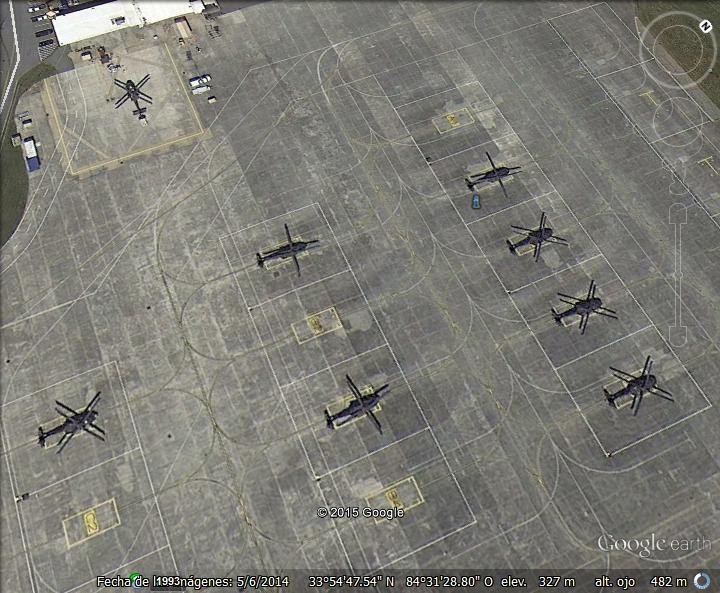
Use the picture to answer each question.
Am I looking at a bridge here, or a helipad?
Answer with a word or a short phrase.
helipad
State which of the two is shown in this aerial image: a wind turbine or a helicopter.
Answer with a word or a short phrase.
helicopter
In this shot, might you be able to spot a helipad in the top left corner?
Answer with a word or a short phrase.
Yes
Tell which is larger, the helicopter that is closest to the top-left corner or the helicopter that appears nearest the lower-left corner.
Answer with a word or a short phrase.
the helicopter that appears nearest the lower-left corner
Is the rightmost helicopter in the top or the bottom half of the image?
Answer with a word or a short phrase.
bottom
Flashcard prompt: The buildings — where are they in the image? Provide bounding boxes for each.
[204,4,221,20]
[52,0,202,53]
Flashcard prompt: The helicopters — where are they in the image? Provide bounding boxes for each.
[33,397,106,454]
[317,380,384,433]
[254,224,316,270]
[115,78,154,120]
[507,217,569,263]
[604,359,674,414]
[463,155,519,196]
[552,285,618,336]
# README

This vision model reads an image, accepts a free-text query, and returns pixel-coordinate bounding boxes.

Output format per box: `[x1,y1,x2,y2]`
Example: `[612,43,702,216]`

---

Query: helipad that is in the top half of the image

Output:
[43,39,204,174]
